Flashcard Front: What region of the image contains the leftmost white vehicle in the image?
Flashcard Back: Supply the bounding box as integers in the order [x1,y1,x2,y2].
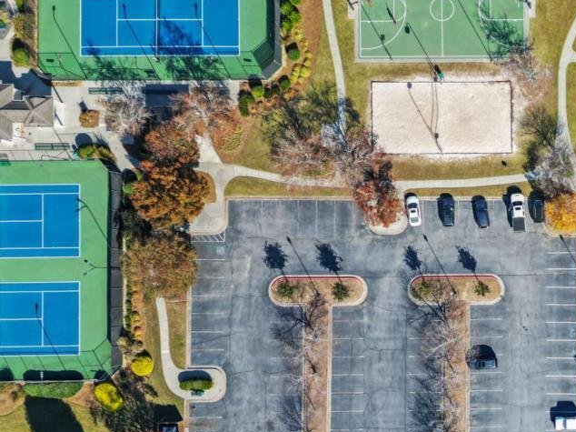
[405,194,421,227]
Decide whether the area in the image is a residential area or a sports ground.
sports ground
